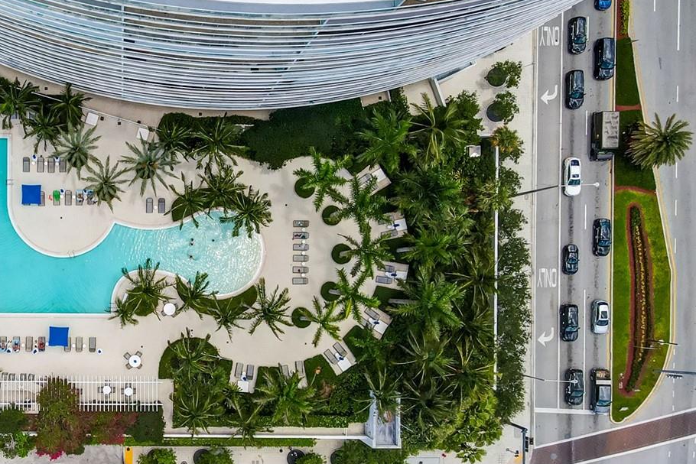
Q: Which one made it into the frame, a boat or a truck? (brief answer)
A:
truck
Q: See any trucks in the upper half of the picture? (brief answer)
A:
Yes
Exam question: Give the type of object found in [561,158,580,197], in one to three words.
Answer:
car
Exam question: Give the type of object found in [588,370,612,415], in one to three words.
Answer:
truck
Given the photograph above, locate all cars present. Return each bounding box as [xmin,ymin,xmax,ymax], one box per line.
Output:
[564,13,588,55]
[563,68,587,110]
[588,300,610,334]
[592,36,617,80]
[557,304,580,342]
[561,158,580,197]
[563,367,586,407]
[592,0,613,14]
[591,216,612,256]
[560,244,580,276]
